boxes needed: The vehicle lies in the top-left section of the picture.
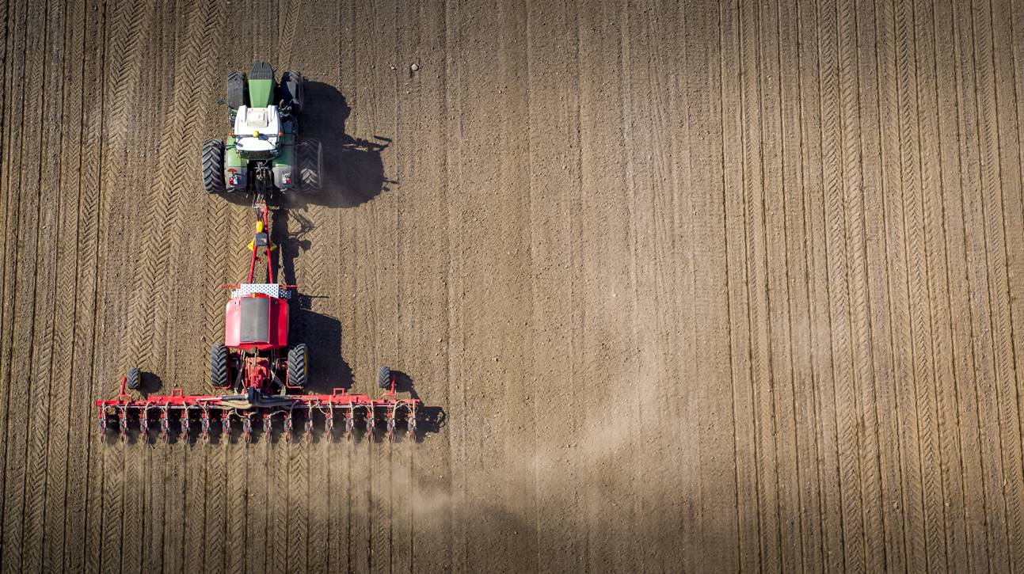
[202,61,323,207]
